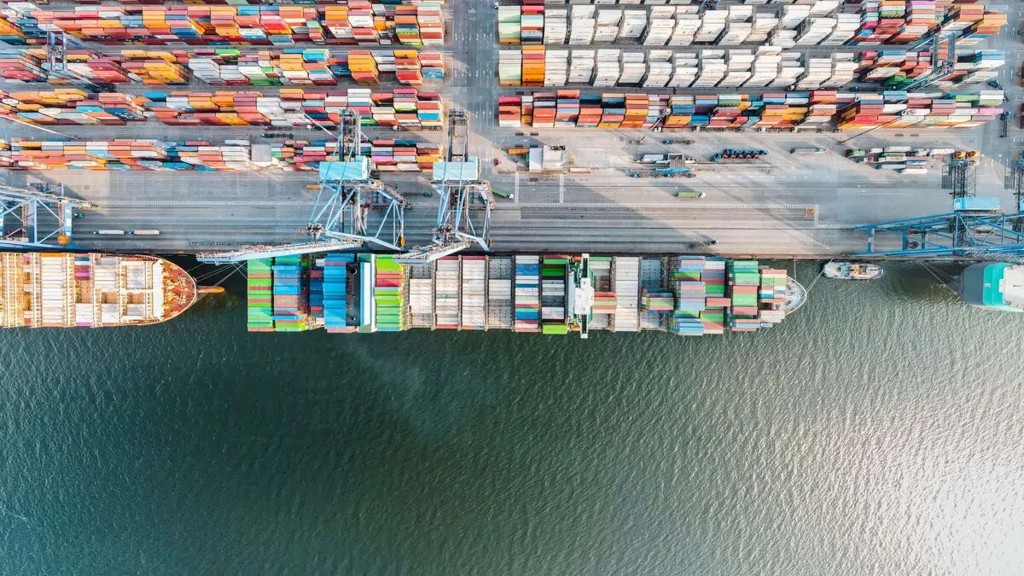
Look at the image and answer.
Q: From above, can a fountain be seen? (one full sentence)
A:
No, there's no fountain here.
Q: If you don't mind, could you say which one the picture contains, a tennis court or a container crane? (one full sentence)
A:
There is a container crane in the scene.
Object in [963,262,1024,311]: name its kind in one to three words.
ship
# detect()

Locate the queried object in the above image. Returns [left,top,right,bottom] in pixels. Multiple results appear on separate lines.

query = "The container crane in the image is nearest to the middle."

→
[390,107,497,259]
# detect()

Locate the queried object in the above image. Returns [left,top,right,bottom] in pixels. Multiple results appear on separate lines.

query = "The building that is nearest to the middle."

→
[527,146,567,174]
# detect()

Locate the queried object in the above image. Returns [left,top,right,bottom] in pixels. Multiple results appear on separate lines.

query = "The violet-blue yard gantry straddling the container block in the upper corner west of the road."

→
[39,31,104,90]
